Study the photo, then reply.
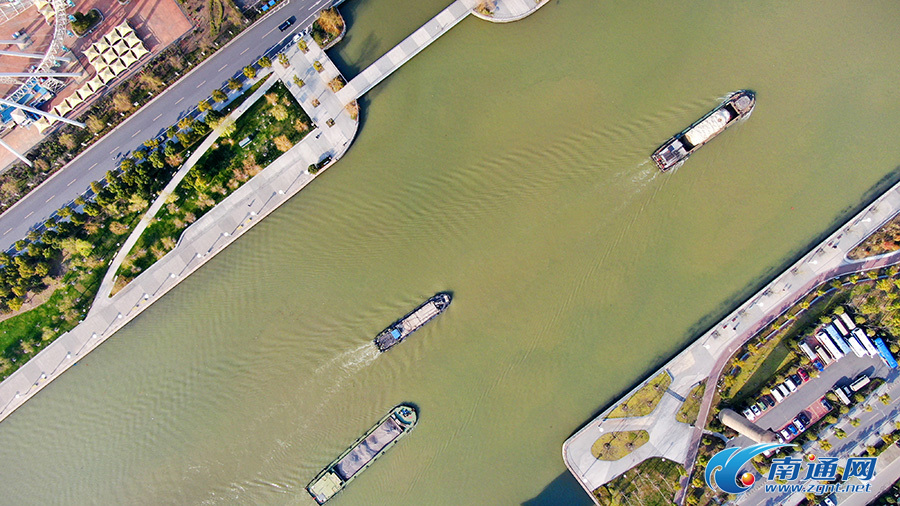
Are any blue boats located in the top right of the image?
No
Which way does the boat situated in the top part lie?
at an angle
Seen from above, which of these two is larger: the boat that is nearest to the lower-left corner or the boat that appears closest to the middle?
the boat that is nearest to the lower-left corner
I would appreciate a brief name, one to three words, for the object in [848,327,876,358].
bus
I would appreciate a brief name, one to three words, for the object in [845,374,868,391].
vehicle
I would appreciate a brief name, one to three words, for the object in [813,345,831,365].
vehicle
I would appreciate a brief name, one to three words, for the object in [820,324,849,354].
bus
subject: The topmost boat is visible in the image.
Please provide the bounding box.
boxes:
[651,90,757,171]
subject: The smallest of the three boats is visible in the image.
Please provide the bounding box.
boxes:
[374,293,453,352]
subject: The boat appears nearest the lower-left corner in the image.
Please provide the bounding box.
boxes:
[307,403,419,505]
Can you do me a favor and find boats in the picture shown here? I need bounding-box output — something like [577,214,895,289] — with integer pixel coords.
[651,90,757,171]
[374,293,453,352]
[307,403,419,505]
